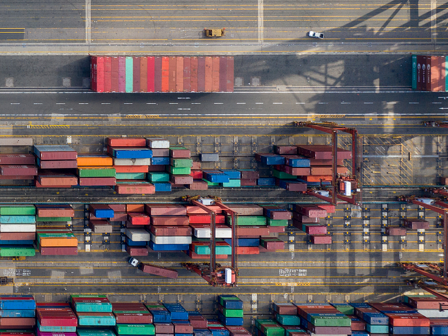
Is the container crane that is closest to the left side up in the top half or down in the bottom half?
bottom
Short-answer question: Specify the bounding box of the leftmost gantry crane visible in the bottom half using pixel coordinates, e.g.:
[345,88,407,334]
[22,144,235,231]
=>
[181,197,241,288]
